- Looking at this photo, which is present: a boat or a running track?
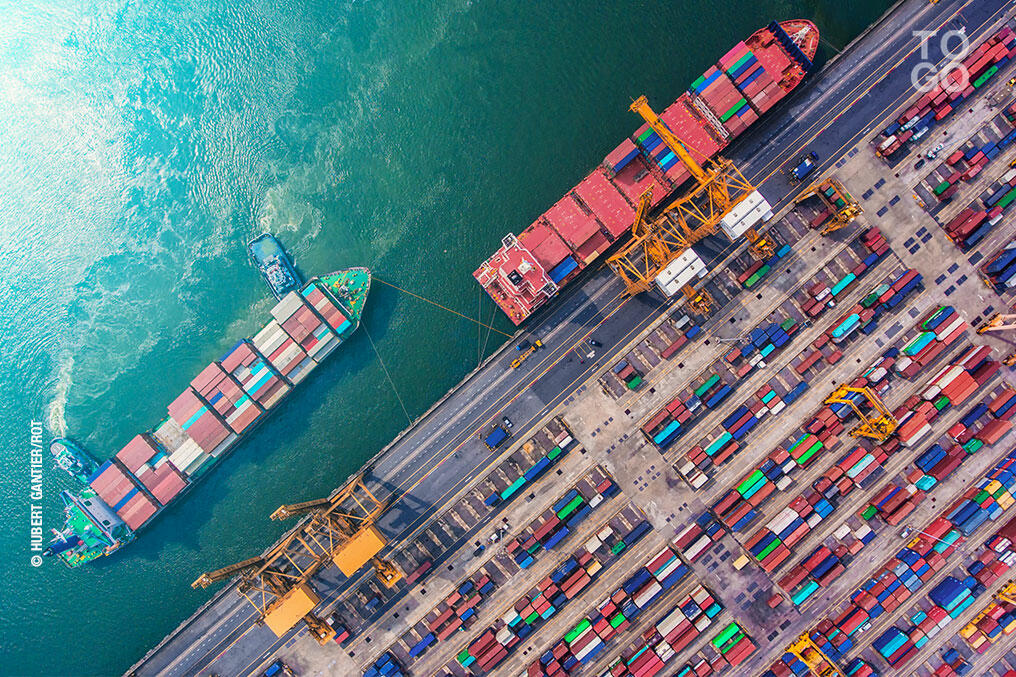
boat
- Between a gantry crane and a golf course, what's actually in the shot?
gantry crane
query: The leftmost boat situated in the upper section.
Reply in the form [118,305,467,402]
[247,230,297,296]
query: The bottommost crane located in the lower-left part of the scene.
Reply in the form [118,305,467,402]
[192,522,344,643]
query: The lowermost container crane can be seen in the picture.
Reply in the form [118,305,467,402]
[785,630,848,677]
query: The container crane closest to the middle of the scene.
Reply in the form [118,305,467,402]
[592,186,712,319]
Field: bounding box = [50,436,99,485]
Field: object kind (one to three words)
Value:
boat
